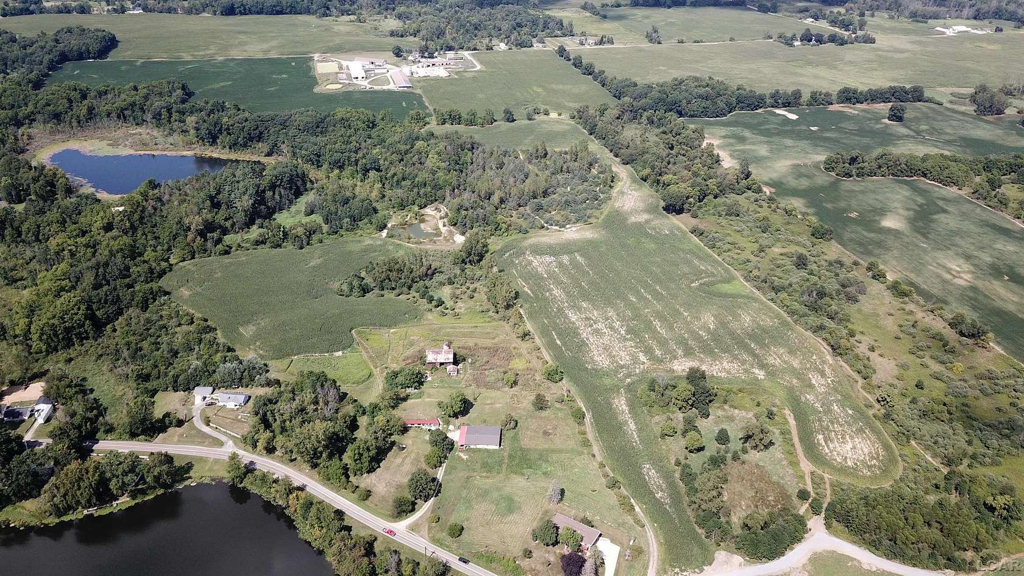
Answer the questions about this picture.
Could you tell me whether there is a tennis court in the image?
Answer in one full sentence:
No, no tennis court is visible in the view.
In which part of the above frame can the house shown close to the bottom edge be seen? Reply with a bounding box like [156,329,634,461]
[547,511,601,557]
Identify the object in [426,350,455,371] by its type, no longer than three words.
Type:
barn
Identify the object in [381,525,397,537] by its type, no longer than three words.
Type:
vehicle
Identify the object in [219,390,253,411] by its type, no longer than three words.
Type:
house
